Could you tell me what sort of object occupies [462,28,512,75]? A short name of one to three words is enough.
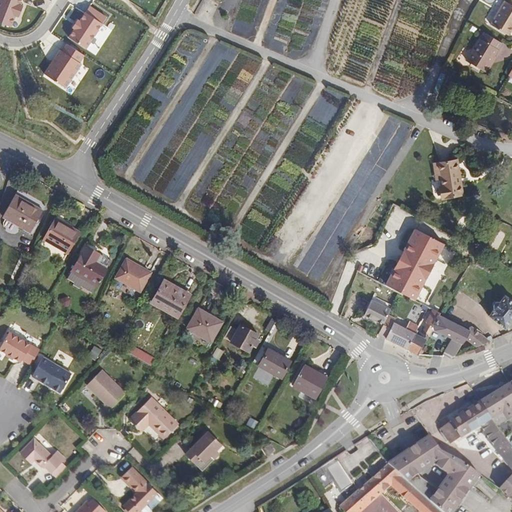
house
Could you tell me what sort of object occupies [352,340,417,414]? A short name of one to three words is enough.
roundabout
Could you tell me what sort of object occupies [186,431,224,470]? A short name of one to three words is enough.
house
